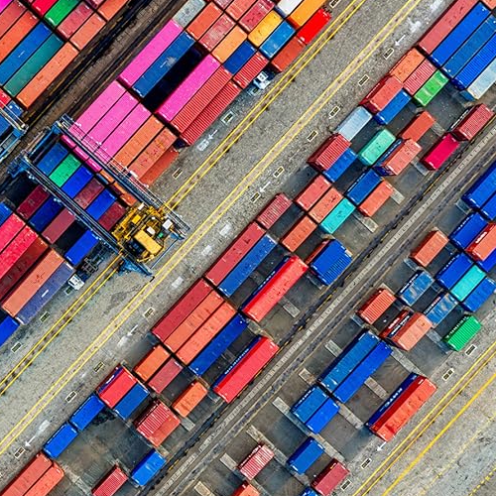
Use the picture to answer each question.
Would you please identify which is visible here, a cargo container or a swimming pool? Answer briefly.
cargo container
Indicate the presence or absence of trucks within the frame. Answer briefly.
Yes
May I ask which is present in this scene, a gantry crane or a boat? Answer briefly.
gantry crane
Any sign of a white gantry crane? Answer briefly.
No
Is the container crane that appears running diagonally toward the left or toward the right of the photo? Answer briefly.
left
